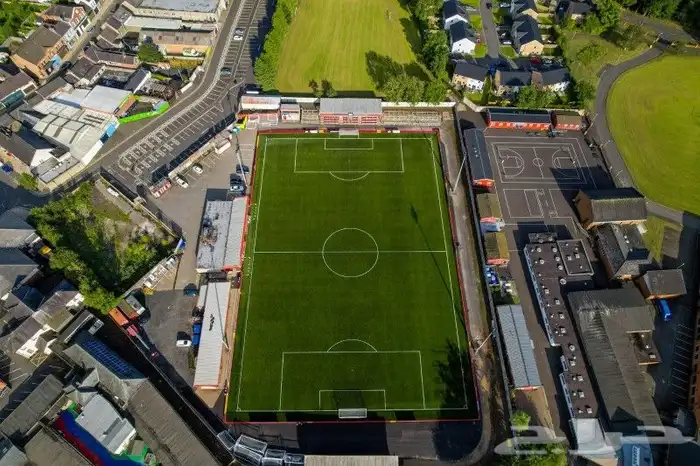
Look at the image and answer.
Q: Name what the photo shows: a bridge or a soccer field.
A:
soccer field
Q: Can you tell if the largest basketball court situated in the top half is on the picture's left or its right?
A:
right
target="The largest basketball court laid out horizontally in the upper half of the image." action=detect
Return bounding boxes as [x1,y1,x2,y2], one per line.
[488,137,597,191]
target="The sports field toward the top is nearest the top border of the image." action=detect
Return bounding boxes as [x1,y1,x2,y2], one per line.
[265,0,439,98]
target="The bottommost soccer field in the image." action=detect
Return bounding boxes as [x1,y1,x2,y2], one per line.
[226,135,480,422]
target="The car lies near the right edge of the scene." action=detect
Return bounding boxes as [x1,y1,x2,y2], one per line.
[673,407,686,424]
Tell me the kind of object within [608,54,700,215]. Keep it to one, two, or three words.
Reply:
sports field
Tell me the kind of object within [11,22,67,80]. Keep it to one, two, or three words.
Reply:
building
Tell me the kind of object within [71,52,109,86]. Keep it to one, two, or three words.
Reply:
building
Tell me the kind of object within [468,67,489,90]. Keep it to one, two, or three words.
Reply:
house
